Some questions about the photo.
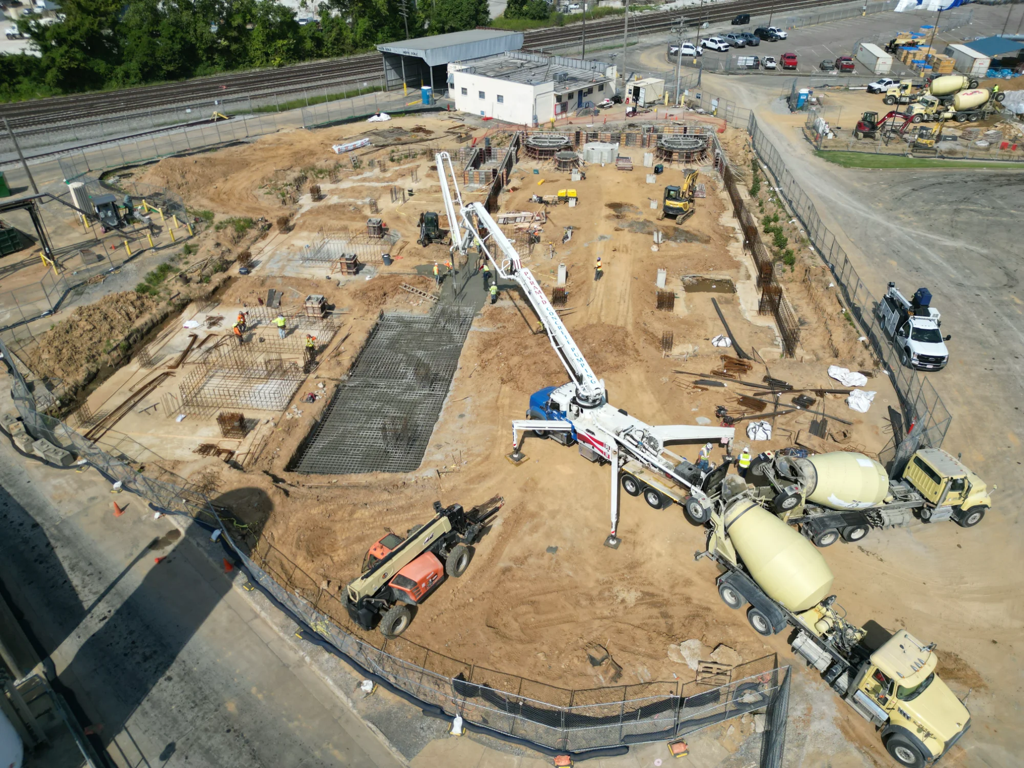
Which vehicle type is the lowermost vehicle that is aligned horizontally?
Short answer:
truck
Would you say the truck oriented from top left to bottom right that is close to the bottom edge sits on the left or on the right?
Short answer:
right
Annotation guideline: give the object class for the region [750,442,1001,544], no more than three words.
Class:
truck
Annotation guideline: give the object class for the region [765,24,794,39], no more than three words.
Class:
car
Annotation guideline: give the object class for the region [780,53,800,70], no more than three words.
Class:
vehicle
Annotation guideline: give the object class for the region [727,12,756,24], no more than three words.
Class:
vehicle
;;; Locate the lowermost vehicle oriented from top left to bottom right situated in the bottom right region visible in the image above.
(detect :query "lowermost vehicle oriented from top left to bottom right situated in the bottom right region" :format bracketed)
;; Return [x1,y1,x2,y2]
[667,481,980,768]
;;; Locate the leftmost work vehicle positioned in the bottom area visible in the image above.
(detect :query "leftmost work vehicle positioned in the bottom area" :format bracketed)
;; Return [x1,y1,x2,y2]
[335,494,496,644]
